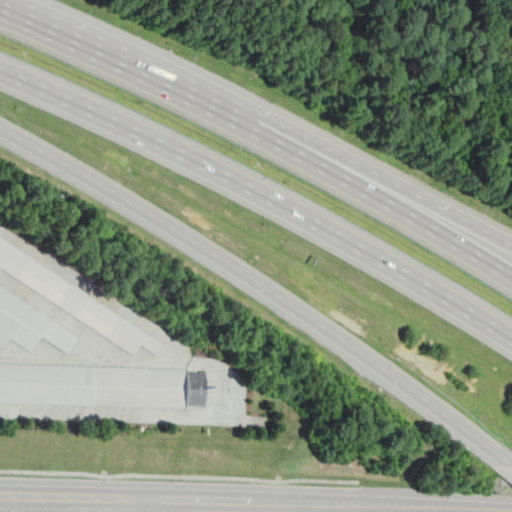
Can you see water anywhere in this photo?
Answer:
No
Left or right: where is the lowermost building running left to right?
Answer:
left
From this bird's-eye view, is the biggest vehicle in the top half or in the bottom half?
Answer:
top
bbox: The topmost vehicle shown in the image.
[138,62,178,82]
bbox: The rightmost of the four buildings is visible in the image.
[188,372,208,406]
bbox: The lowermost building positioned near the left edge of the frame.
[0,366,186,408]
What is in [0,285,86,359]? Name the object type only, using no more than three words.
building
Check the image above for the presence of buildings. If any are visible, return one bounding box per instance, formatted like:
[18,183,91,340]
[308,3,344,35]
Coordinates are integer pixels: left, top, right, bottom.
[0,366,186,408]
[188,372,208,406]
[0,235,170,360]
[0,285,86,359]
